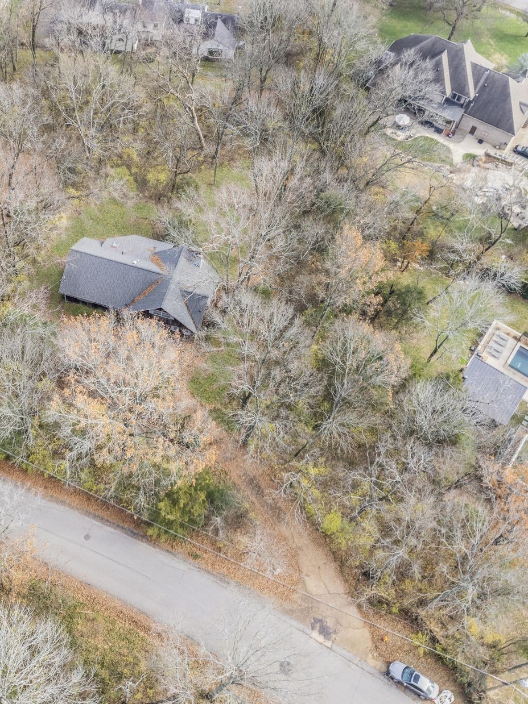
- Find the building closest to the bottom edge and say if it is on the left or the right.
right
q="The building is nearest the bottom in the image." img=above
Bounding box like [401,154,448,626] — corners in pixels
[457,355,527,431]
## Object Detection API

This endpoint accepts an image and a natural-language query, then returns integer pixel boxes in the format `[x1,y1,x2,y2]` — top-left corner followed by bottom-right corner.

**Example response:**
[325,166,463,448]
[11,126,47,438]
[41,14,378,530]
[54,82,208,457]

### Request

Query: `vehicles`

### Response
[388,661,442,704]
[510,138,528,155]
